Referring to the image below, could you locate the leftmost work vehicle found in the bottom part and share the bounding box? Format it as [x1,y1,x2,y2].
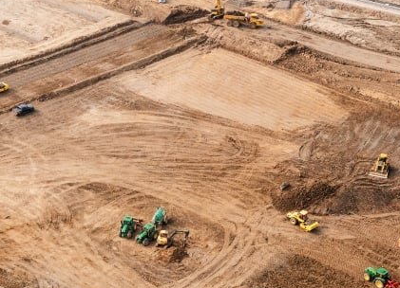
[119,214,138,239]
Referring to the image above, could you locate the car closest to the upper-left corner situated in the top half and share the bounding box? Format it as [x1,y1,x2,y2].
[11,104,35,116]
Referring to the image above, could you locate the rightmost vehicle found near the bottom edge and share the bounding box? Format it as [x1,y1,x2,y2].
[359,266,390,288]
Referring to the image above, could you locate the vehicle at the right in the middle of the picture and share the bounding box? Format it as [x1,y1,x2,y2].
[368,154,390,181]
